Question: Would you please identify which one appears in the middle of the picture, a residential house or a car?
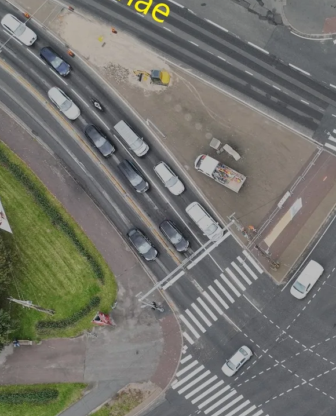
car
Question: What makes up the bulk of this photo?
paved ground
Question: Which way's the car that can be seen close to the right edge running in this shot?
on a diagonal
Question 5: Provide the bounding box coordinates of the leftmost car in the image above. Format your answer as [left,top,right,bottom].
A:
[0,10,39,48]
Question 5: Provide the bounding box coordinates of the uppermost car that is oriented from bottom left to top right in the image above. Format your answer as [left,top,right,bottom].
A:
[291,258,324,300]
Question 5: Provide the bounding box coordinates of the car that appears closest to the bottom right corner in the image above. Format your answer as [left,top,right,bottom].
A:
[220,343,256,379]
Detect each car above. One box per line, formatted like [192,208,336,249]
[149,158,187,198]
[291,258,324,300]
[156,217,192,255]
[124,225,161,264]
[81,121,117,159]
[220,343,256,379]
[36,44,73,78]
[0,10,39,48]
[115,155,152,196]
[110,116,151,158]
[45,83,82,122]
